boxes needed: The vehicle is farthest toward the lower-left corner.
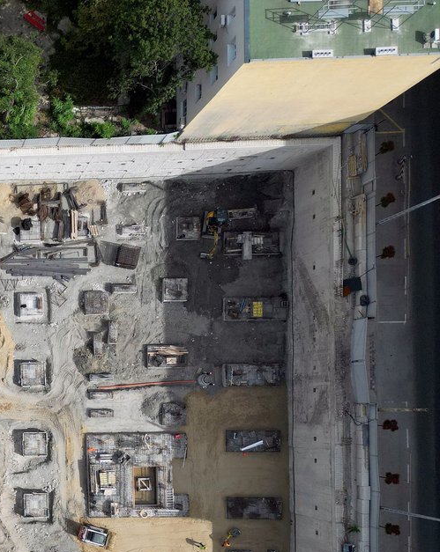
[69,522,111,547]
